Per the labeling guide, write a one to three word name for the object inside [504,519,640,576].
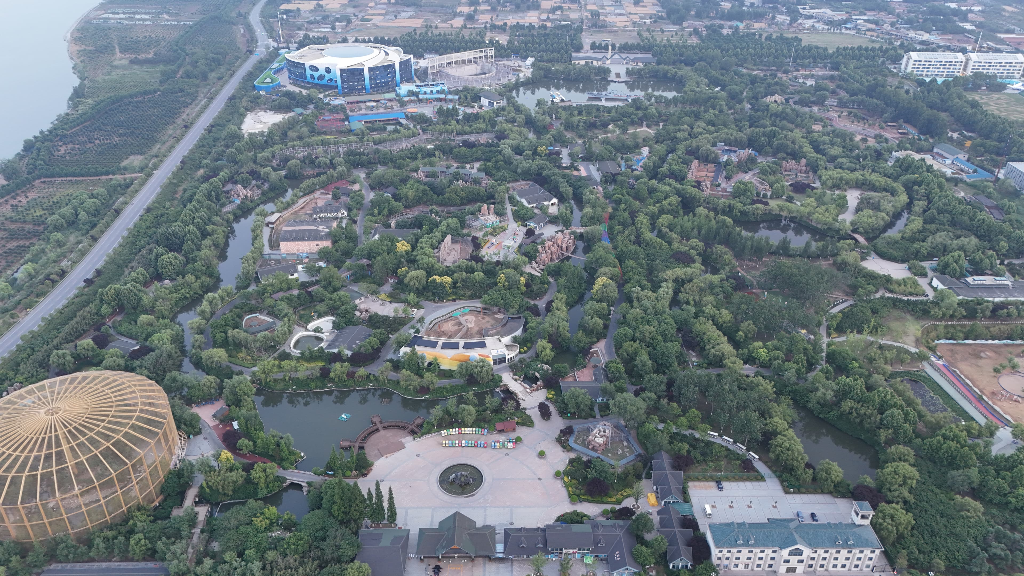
building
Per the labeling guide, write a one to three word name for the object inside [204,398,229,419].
building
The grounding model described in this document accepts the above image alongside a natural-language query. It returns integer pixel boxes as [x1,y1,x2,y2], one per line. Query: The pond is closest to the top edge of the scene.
[509,78,684,113]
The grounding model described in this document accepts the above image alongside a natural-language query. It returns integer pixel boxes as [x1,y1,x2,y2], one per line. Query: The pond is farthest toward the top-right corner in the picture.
[732,201,910,249]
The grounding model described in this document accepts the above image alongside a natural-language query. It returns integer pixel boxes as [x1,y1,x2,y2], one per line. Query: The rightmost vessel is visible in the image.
[587,82,645,99]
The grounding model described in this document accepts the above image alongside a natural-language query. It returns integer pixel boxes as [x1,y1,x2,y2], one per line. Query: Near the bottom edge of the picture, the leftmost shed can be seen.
[347,528,413,576]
